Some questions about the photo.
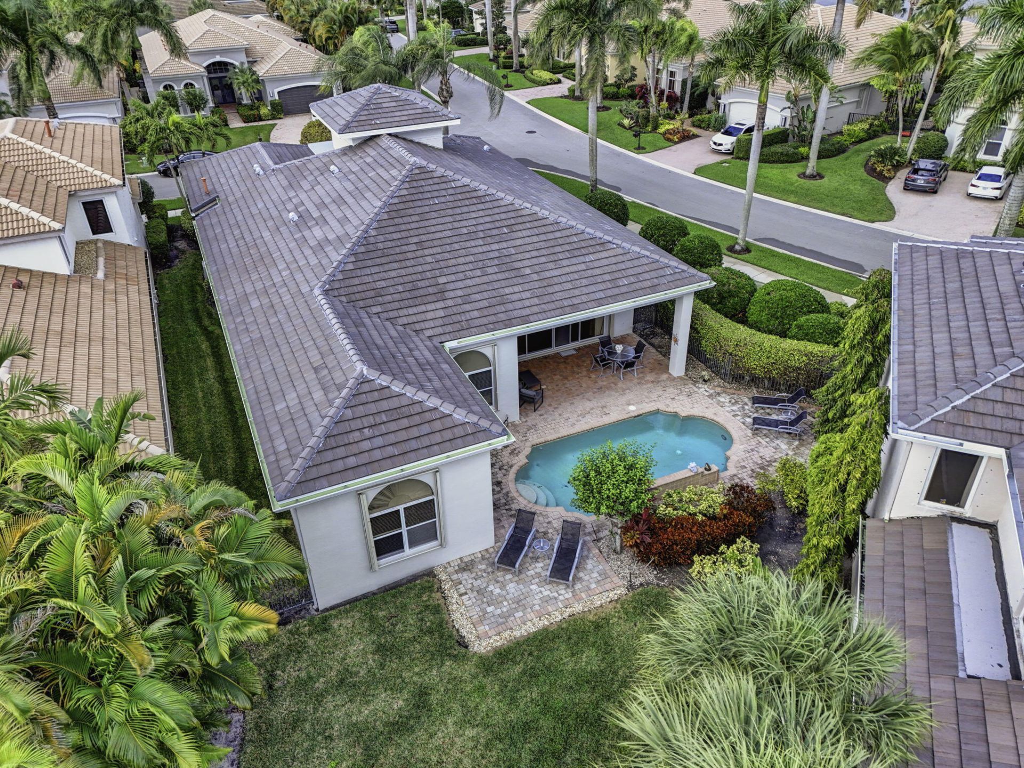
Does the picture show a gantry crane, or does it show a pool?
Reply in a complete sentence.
There is a pool in the scene.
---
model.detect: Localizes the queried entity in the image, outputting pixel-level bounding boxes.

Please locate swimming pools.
[504,403,743,521]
